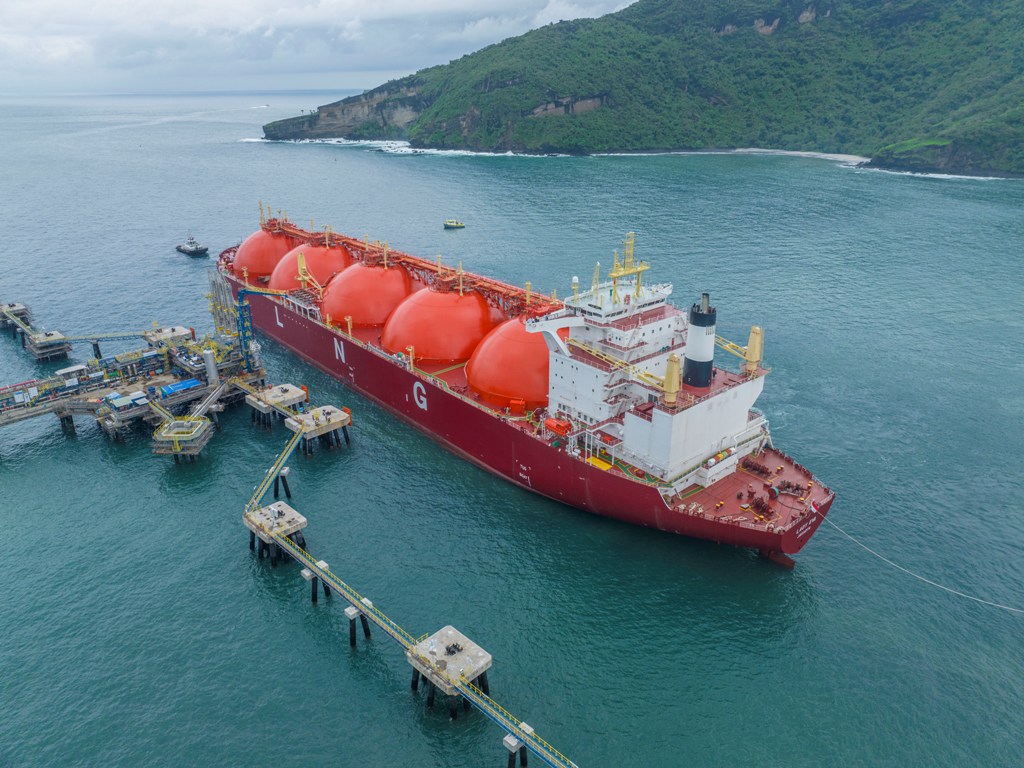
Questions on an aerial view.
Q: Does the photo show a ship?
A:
Yes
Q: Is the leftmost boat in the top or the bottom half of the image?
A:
top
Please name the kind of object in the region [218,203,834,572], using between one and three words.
ship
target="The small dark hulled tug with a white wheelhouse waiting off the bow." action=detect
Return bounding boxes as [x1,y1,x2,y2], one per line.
[174,235,206,255]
